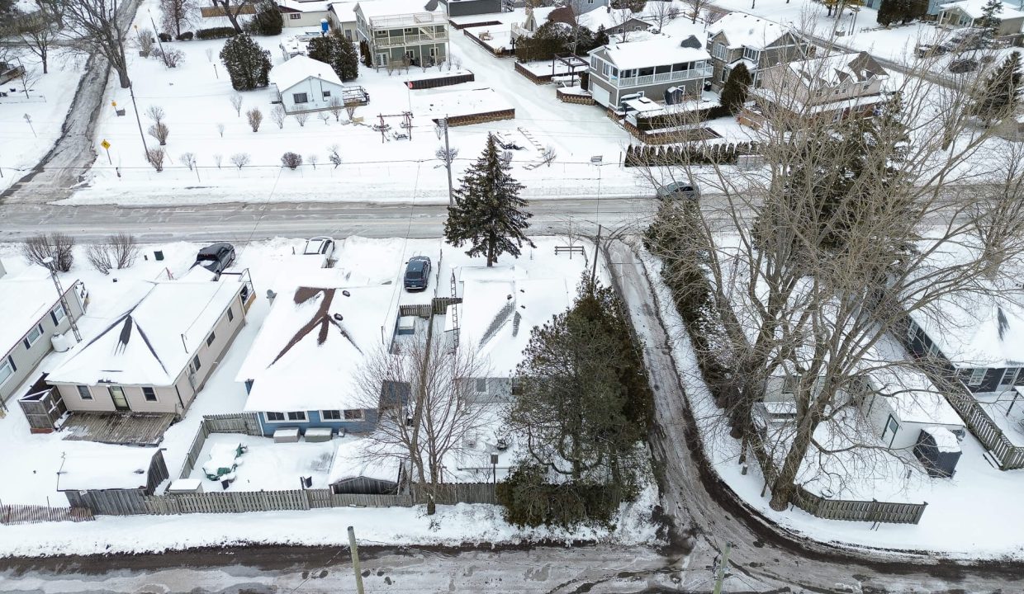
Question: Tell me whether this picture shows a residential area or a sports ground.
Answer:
residential area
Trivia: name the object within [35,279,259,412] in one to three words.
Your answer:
house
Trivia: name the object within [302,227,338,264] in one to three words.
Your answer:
car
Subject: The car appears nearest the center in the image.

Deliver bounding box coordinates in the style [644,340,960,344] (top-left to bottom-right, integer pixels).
[403,254,434,287]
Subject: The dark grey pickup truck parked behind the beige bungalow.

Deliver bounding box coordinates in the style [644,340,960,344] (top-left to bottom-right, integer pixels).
[189,237,239,273]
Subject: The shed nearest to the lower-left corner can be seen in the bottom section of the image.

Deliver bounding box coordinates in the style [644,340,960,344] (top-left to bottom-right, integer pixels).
[53,446,167,511]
